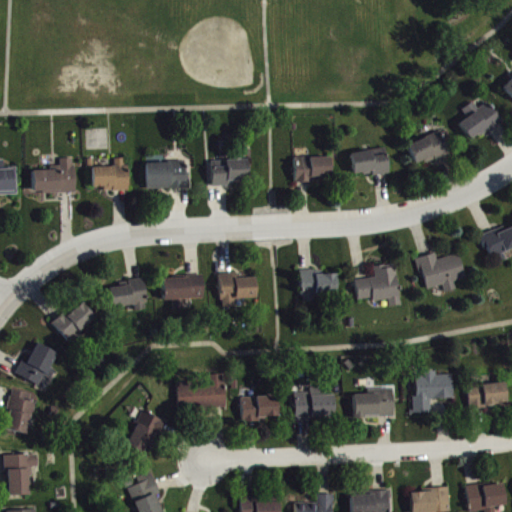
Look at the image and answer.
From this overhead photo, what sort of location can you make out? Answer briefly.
residential area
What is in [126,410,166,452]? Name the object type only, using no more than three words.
house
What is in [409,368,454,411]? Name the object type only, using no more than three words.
house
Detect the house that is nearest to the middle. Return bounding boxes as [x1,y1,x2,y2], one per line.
[216,272,260,307]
